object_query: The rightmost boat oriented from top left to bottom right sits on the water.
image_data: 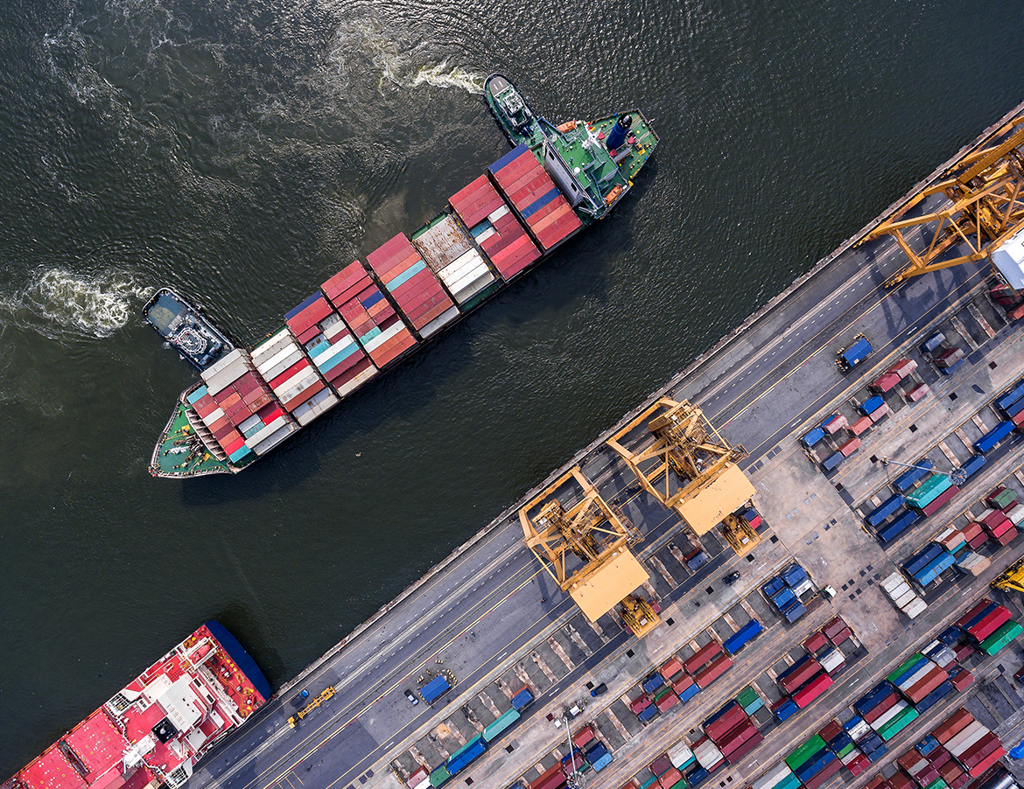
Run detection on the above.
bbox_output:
[483,69,545,152]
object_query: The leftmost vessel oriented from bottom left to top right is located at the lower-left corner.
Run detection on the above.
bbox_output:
[0,620,271,789]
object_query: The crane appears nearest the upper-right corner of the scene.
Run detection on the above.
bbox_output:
[939,111,1024,208]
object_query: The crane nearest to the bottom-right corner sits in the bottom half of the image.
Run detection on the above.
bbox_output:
[989,558,1024,594]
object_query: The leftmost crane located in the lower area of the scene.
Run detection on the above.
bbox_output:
[510,461,660,638]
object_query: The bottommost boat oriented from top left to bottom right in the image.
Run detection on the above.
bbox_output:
[147,289,233,372]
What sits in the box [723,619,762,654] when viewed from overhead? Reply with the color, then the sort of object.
blue shipping container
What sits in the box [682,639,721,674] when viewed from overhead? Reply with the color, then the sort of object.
red shipping container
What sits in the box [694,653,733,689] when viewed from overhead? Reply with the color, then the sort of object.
red shipping container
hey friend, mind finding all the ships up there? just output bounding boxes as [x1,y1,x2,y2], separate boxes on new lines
[146,108,660,480]
[0,620,271,789]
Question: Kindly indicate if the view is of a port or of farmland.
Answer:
port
